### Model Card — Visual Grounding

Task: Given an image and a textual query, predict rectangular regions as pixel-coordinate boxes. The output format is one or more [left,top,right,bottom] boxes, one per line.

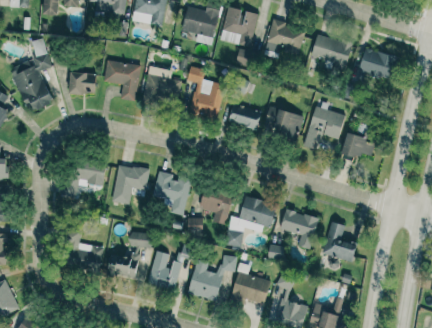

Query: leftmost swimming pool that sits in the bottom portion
[113,222,127,236]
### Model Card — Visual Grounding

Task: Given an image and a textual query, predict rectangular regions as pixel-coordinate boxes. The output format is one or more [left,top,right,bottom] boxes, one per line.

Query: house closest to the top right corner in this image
[360,49,390,74]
